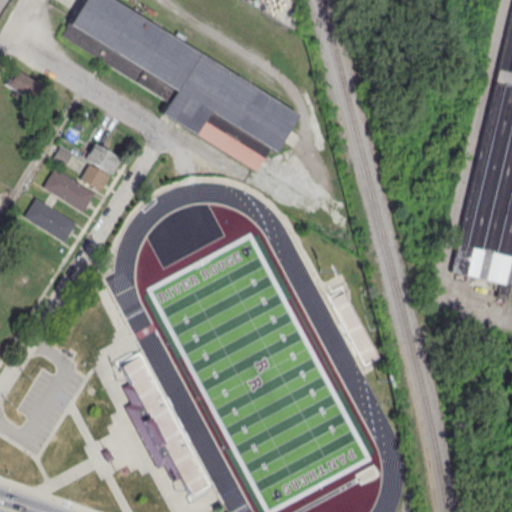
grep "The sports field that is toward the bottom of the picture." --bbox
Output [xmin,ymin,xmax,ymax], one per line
[144,233,374,512]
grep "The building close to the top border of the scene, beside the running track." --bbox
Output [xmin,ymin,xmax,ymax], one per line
[63,0,298,172]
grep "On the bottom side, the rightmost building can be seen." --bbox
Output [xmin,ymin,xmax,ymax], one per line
[123,382,179,481]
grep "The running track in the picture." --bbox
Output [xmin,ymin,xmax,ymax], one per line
[106,184,402,512]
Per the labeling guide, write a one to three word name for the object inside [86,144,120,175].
house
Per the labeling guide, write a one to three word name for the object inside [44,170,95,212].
house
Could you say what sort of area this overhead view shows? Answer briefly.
sports ground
